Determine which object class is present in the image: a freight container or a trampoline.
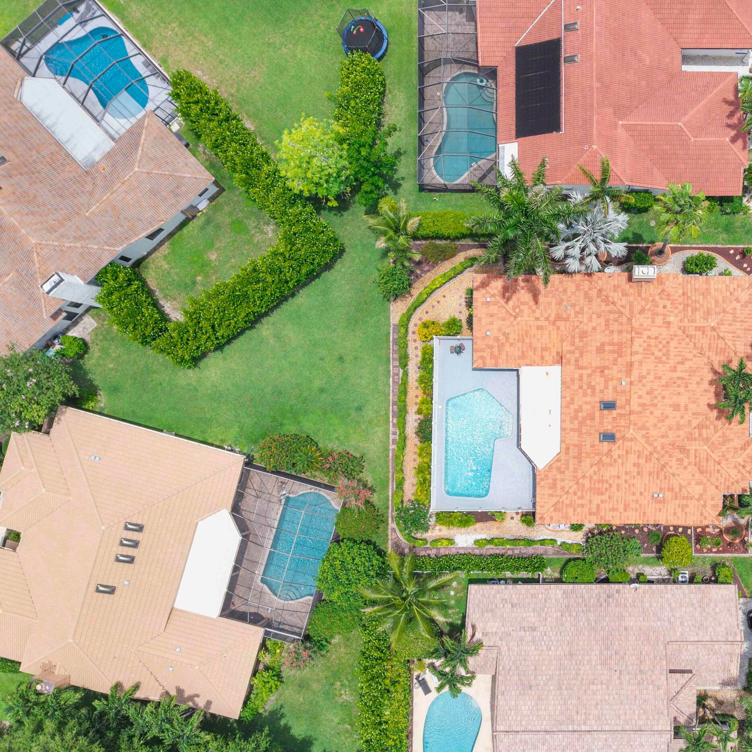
trampoline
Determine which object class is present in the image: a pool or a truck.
pool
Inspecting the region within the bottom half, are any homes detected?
Yes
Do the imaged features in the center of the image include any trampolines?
No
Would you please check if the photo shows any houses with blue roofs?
No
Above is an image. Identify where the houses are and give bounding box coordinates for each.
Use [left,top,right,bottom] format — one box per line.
[0,408,271,720]
[0,41,218,384]
[469,582,743,752]
[471,265,752,526]
[470,0,752,198]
